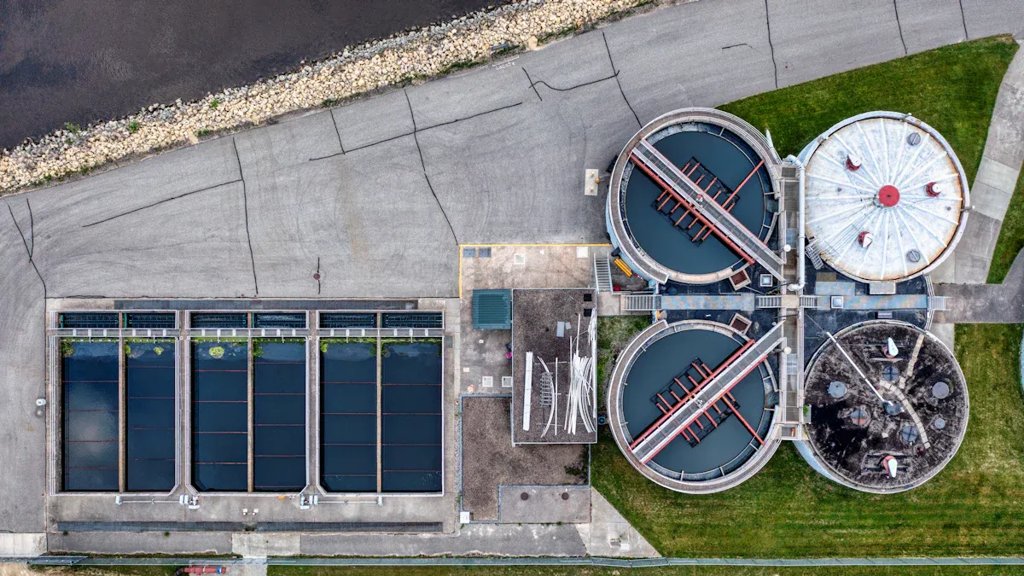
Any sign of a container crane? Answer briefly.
No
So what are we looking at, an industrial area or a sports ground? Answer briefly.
industrial area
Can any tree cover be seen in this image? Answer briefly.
No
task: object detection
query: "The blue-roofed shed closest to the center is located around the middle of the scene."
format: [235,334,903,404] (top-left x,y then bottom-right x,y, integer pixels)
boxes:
[473,289,511,330]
